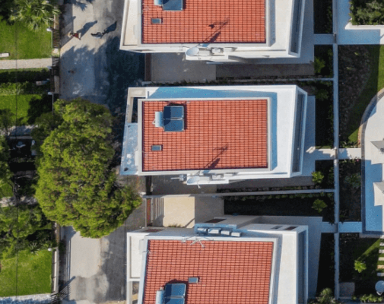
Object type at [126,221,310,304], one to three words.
house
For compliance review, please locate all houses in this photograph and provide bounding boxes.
[120,85,308,186]
[126,221,310,304]
[120,0,306,63]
